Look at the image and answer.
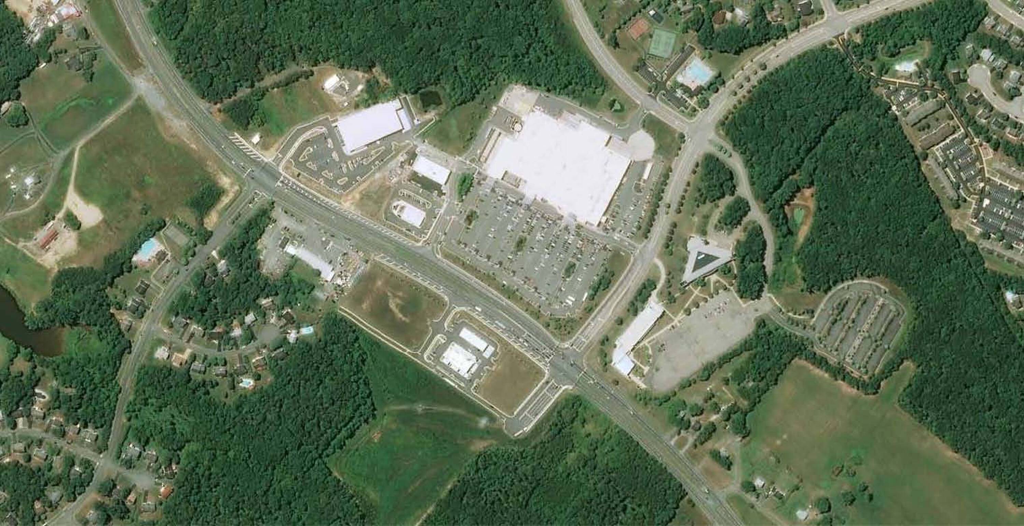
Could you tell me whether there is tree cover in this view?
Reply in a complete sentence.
Yes, the picture does contain tree cover.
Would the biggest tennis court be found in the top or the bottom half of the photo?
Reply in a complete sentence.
You can find the biggest tennis court in the top half.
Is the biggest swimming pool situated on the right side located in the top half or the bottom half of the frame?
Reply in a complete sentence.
The top half of the photo is where the biggest swimming pool situated on the right side is.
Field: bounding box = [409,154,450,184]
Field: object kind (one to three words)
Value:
building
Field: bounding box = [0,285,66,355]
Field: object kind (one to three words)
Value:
pond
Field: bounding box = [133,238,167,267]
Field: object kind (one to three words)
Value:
swimming pool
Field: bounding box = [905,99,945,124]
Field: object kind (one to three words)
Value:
building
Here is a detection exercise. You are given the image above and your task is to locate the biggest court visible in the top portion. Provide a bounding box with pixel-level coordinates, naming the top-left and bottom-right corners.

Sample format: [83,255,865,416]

[648,28,676,58]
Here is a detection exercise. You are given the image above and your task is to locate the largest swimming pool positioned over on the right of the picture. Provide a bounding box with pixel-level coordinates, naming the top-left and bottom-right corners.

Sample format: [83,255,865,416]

[677,57,717,90]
